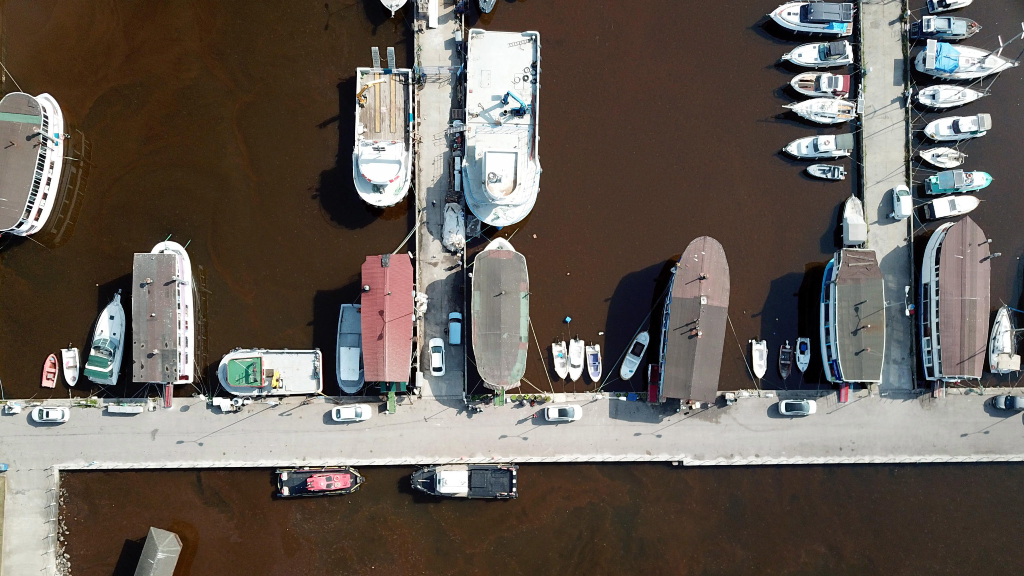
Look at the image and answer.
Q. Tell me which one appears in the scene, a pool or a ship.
ship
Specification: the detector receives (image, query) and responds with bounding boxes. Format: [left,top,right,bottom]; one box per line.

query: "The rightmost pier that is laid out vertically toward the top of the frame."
[855,0,916,389]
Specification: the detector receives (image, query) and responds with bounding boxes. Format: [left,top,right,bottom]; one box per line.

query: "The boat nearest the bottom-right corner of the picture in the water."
[986,298,1024,388]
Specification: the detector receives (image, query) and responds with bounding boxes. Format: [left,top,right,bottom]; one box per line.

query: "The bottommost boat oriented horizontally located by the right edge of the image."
[914,194,987,219]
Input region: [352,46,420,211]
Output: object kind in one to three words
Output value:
ship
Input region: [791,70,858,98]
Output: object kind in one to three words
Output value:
boat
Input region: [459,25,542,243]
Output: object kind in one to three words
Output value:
ship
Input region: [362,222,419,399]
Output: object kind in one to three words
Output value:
boat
